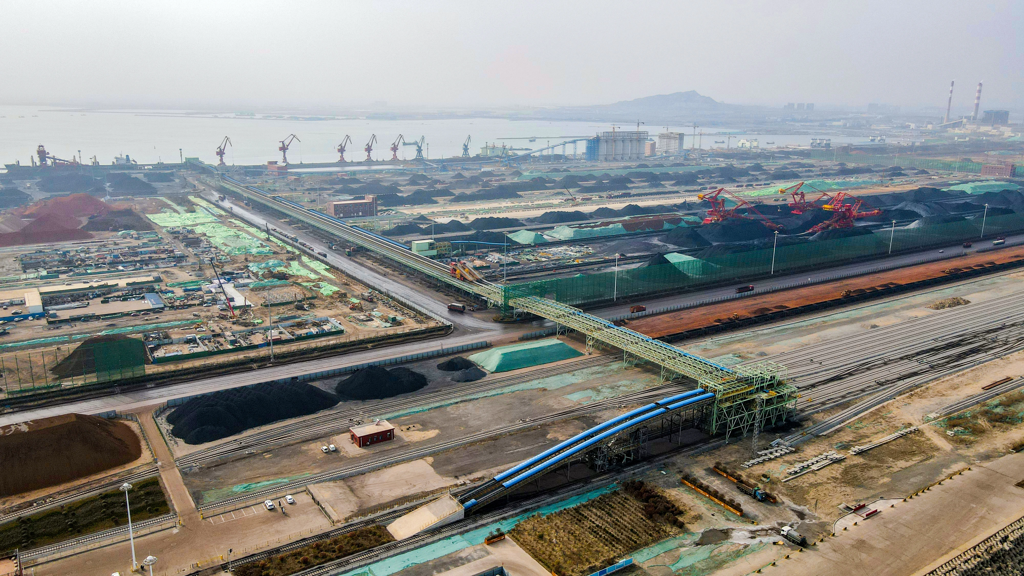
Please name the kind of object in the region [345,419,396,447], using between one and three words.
shed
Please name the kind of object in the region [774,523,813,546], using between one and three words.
truck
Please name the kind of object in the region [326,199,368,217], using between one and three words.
building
